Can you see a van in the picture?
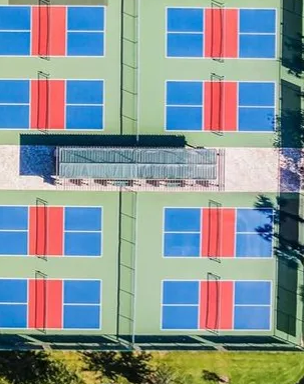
No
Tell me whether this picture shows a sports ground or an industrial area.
sports ground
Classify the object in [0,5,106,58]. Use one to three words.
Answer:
sports court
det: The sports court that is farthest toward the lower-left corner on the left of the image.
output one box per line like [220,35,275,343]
[0,278,102,330]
